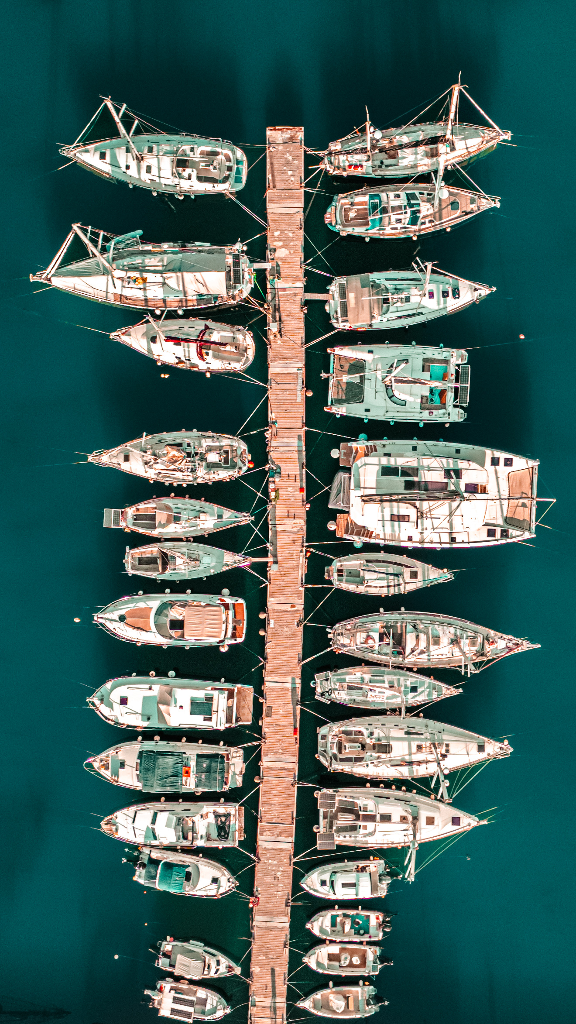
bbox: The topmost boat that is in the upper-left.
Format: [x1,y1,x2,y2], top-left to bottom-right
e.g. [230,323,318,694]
[54,96,248,191]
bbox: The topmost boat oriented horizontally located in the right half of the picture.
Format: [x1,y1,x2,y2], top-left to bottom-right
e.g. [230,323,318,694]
[307,75,517,182]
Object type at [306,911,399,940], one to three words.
boat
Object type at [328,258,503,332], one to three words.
boat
